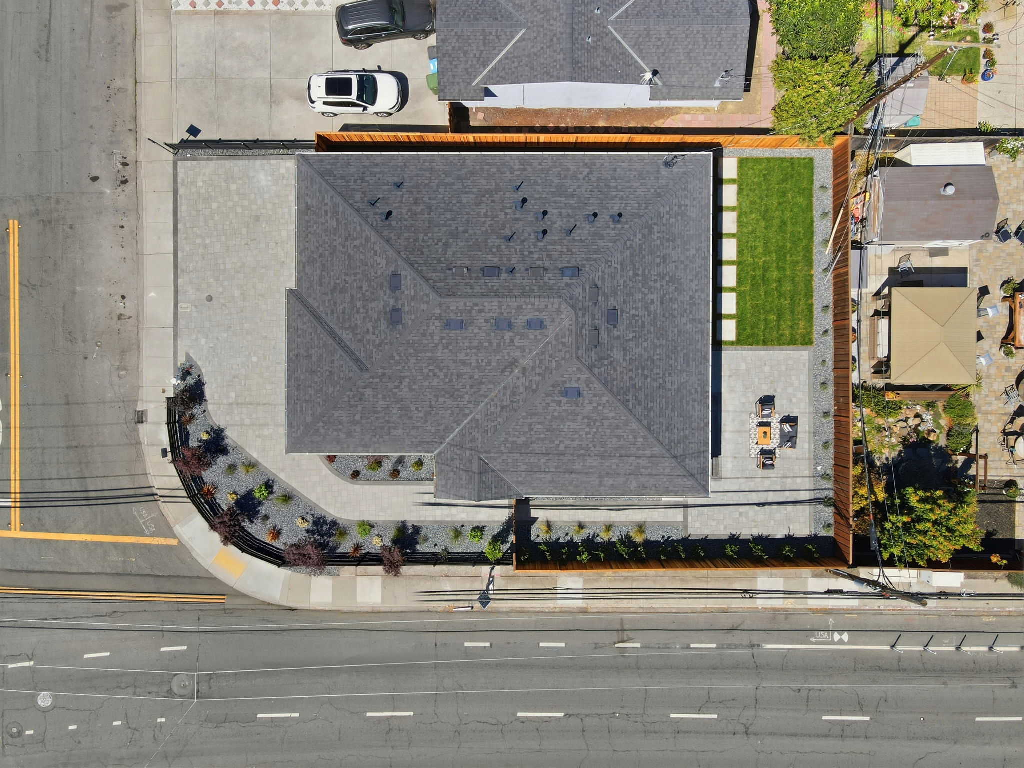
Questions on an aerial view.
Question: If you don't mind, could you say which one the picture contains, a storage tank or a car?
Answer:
car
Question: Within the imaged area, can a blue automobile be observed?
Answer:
No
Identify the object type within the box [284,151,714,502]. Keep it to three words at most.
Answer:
house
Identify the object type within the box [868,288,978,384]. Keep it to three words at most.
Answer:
gazebo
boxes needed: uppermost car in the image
[332,0,437,48]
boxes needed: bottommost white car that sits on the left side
[306,65,402,118]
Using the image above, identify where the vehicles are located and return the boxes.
[306,65,402,118]
[332,0,437,48]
